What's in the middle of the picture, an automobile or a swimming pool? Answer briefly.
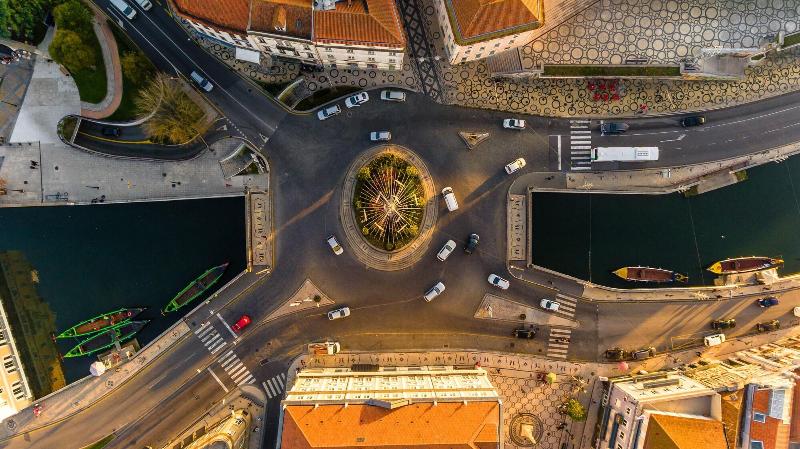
automobile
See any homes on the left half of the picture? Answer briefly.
Yes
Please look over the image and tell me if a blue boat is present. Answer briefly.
No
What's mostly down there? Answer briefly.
paved ground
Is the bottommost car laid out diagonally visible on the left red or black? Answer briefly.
red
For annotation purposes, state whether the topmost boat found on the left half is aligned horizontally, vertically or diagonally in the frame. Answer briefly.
diagonally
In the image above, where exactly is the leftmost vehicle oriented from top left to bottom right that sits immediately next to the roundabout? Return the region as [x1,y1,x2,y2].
[326,234,343,256]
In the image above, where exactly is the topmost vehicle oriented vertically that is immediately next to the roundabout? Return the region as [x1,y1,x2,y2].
[442,187,456,212]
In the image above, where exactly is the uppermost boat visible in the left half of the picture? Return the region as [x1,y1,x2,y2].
[159,262,227,315]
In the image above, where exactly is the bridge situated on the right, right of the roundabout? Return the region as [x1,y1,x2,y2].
[510,187,534,270]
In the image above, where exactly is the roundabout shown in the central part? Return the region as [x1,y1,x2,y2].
[338,145,438,272]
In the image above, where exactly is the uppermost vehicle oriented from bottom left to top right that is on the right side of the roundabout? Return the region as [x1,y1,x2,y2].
[503,155,528,175]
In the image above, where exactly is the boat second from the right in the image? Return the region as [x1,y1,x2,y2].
[615,266,692,283]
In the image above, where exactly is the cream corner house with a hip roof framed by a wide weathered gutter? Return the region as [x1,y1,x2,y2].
[438,0,546,59]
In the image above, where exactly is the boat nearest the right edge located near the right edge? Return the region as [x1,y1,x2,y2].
[710,255,791,273]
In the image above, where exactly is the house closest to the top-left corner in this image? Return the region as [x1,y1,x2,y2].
[173,0,263,55]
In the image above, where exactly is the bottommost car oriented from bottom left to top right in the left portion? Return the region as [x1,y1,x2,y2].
[230,315,251,335]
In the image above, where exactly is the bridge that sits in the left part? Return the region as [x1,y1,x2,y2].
[245,190,267,273]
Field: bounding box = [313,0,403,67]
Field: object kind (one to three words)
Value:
house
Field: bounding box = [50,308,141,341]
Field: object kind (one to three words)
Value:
boat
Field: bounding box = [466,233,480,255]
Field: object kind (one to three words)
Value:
car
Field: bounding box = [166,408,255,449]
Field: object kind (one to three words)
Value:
building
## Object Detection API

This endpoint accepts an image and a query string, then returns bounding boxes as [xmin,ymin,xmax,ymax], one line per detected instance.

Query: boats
[50,308,141,341]
[159,262,227,315]
[615,266,692,283]
[60,320,146,360]
[710,255,791,273]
